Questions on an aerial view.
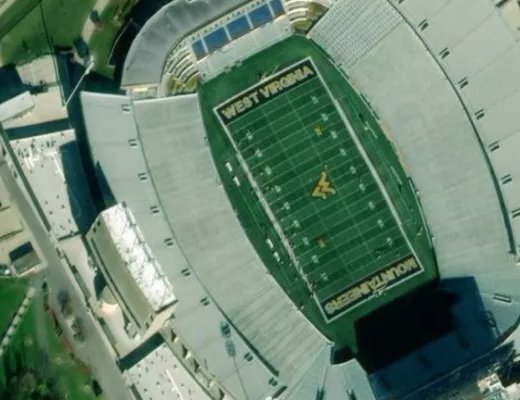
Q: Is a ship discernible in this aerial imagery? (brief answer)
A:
No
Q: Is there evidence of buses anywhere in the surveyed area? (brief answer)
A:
No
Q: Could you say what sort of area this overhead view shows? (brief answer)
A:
sports ground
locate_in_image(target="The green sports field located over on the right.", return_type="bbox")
[213,56,424,322]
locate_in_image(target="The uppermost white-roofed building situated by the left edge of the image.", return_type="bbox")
[0,90,35,125]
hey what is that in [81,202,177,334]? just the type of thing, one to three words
building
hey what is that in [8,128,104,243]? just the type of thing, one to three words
building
